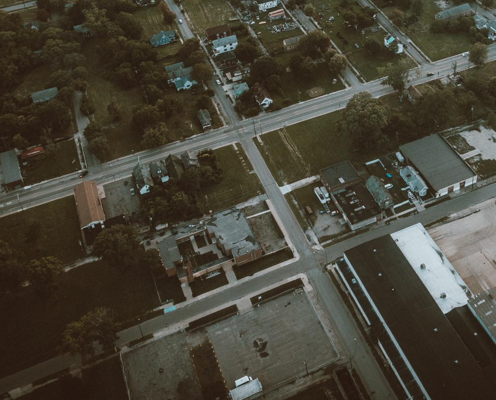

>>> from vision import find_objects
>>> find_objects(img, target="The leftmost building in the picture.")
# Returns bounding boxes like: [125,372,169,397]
[0,149,24,191]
